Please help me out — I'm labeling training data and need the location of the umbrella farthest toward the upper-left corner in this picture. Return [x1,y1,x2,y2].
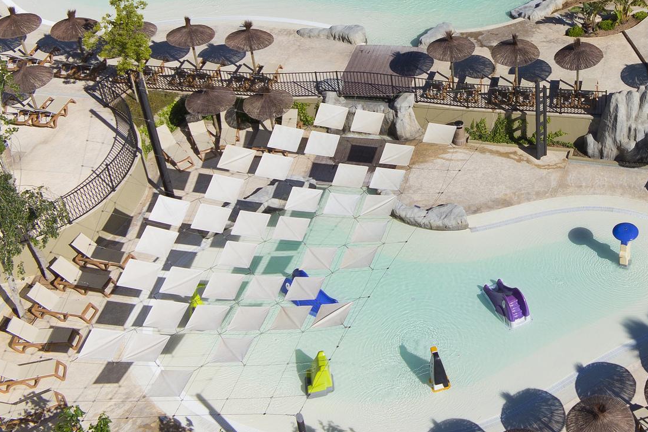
[0,6,41,63]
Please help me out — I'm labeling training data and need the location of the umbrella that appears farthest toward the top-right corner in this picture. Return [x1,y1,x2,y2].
[551,33,602,92]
